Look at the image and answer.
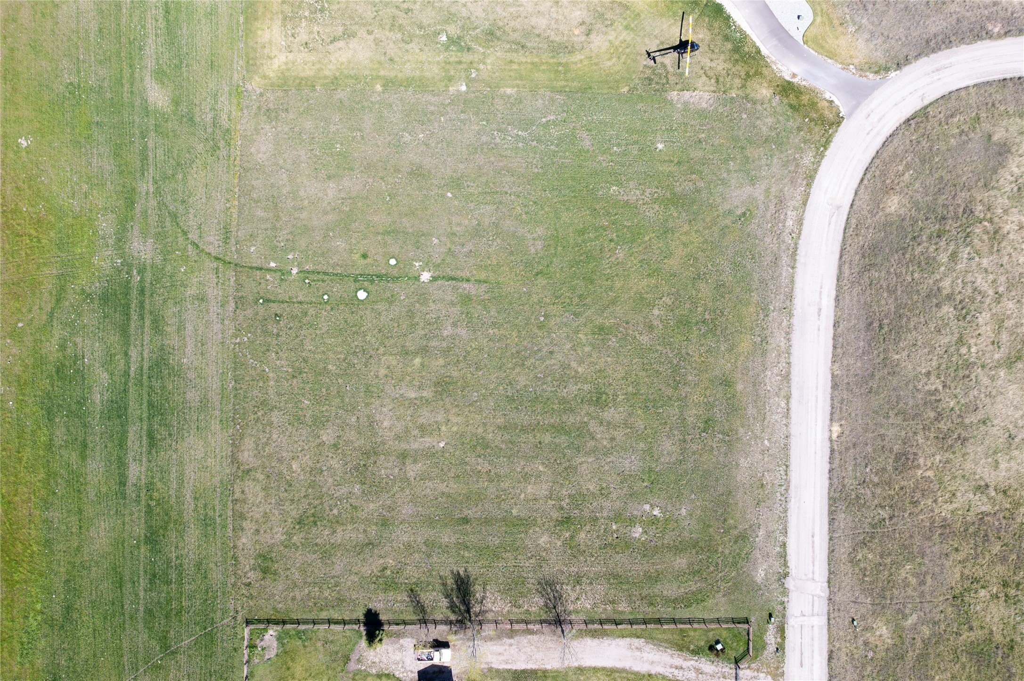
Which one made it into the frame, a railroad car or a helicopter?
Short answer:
helicopter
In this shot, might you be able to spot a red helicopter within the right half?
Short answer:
No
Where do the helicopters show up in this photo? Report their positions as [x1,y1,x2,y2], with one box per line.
[646,13,700,75]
